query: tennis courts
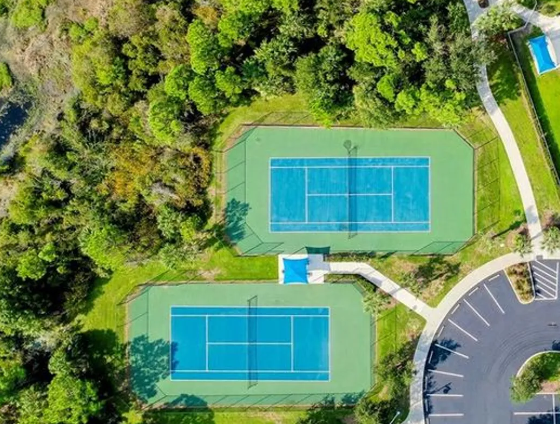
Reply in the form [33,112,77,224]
[226,127,473,255]
[129,283,372,407]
